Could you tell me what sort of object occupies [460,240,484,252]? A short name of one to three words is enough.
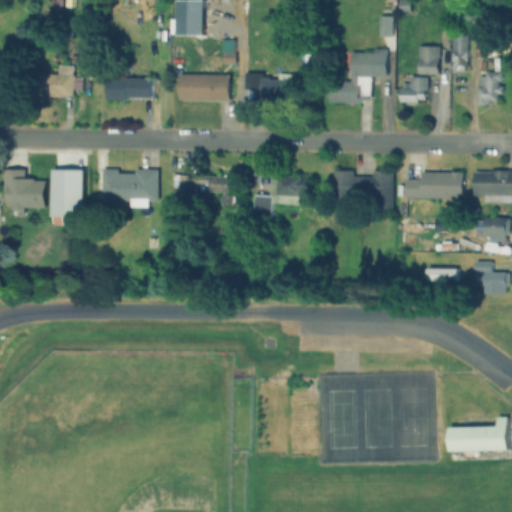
vehicle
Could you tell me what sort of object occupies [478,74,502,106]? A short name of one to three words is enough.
house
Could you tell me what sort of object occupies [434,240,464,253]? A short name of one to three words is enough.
vehicle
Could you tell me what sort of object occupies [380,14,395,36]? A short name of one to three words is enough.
building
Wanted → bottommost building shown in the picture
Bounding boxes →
[446,416,508,452]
